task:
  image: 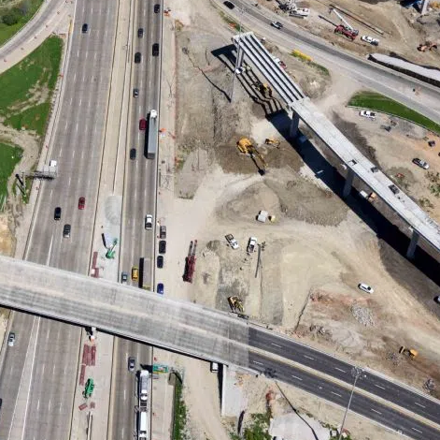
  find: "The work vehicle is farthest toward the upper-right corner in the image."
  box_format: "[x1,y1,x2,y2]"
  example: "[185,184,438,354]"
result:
[406,34,437,51]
